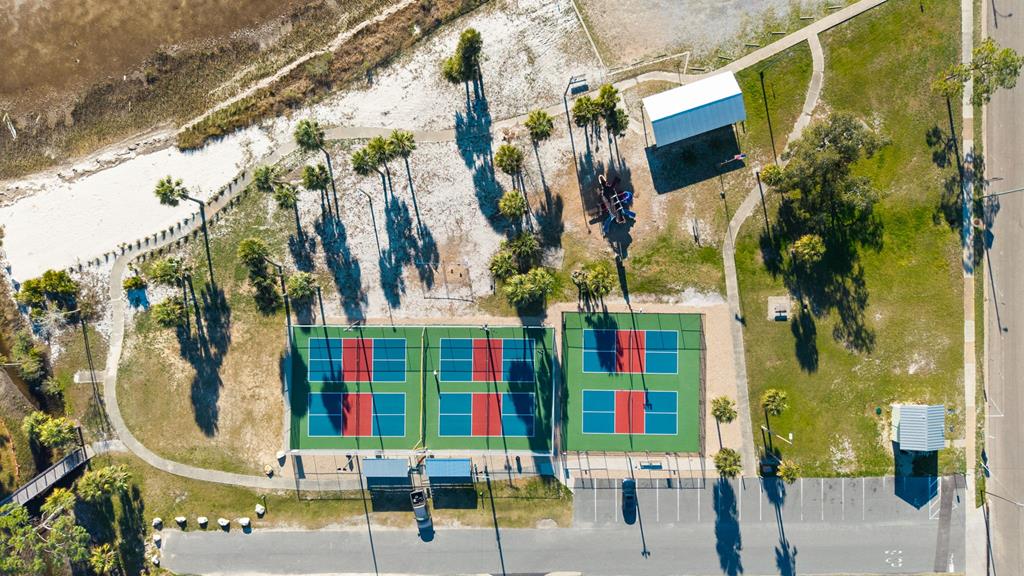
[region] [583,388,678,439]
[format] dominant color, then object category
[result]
blue sports court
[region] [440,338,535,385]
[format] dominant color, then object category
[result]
blue sports court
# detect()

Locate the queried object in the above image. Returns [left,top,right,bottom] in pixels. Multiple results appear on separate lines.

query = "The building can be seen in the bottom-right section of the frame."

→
[890,404,944,451]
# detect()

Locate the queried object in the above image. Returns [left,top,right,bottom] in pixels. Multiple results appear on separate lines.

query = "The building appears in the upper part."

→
[642,71,746,147]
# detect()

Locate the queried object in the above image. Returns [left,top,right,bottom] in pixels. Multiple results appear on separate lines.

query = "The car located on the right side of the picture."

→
[622,478,639,513]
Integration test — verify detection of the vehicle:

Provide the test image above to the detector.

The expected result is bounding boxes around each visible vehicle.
[622,478,639,513]
[407,488,432,531]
